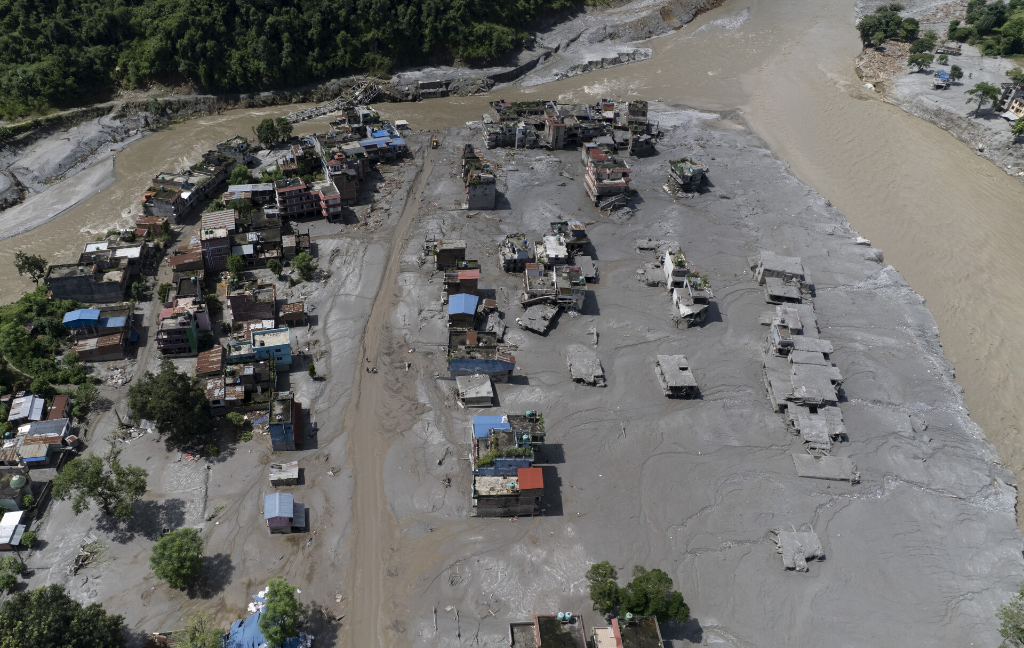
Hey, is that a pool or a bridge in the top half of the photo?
bridge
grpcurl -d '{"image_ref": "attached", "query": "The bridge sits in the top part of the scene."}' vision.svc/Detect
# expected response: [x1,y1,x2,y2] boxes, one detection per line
[286,77,388,123]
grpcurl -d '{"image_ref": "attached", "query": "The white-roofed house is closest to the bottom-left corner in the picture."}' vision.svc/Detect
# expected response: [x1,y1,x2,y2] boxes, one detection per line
[0,511,29,558]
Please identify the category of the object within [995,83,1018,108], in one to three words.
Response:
house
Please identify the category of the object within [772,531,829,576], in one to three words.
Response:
house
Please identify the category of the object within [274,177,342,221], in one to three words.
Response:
building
